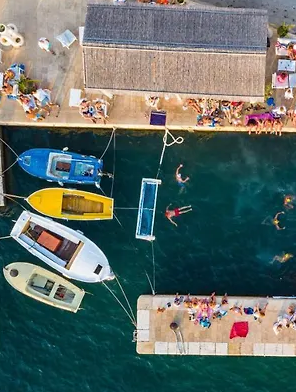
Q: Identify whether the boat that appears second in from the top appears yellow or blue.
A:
yellow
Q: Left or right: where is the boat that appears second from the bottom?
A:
left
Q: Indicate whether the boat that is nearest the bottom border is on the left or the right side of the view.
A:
left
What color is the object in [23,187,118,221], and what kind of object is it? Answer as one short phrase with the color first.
yellow boat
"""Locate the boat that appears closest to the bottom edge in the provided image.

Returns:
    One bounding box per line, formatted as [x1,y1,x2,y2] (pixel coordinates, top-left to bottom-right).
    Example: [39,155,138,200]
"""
[0,265,87,312]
